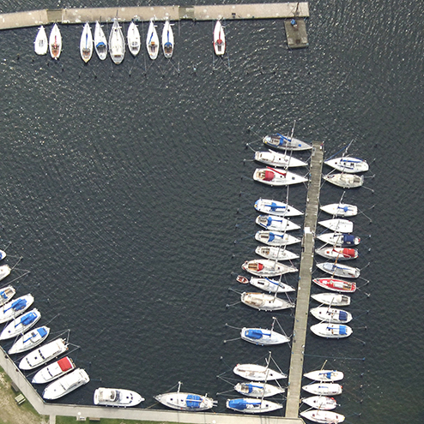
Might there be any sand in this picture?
No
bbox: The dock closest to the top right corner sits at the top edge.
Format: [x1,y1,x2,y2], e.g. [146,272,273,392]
[194,1,308,22]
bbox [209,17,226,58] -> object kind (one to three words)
boat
